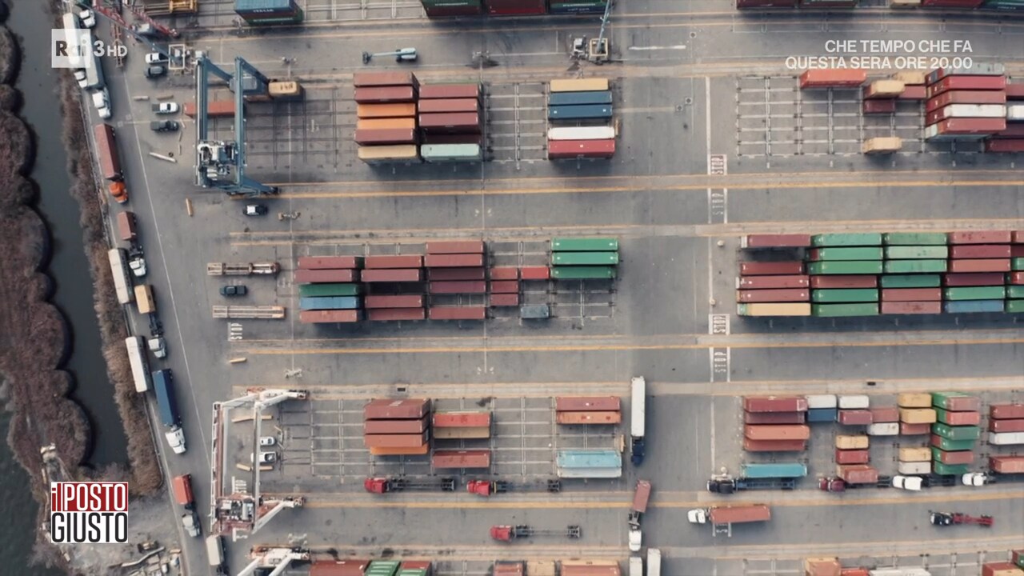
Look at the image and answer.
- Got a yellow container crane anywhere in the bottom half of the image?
No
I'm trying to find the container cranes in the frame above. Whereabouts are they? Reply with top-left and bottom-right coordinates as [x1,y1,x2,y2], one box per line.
[212,389,301,542]
[77,0,186,39]
[192,47,282,194]
[223,549,303,576]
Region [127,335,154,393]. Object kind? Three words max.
trailer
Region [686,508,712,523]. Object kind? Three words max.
vehicle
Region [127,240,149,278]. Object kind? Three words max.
truck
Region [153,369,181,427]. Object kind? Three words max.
shipping container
